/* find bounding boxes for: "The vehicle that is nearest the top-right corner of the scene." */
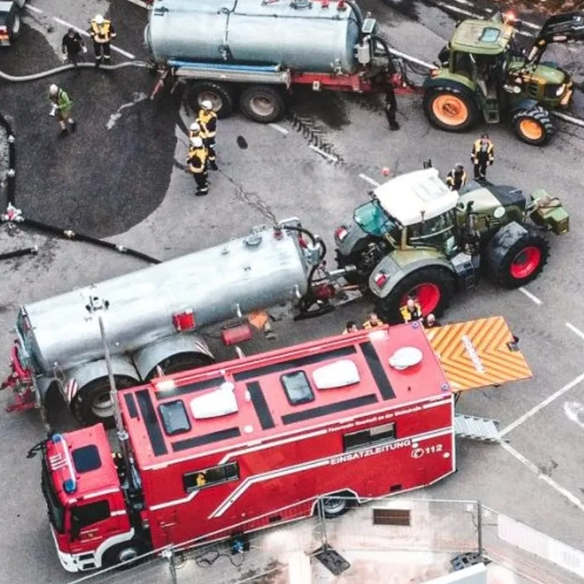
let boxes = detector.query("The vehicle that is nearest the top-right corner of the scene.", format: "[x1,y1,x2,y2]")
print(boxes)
[416,7,584,146]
